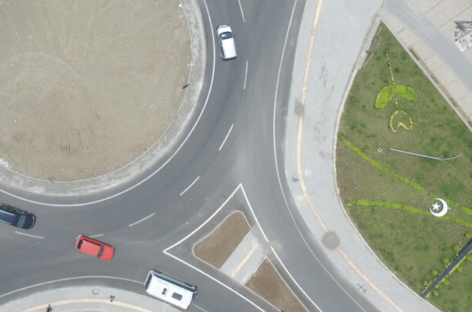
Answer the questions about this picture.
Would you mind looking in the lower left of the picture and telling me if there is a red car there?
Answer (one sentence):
Yes, there is a red car in the lower left of the picture.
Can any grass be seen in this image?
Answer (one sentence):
Yes, there is grass in the image.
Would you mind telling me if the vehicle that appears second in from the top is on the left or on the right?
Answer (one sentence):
The vehicle that appears second in from the top is on the left side of the image.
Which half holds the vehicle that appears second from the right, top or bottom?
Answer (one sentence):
The vehicle that appears second from the right sits in the bottom half of the picture.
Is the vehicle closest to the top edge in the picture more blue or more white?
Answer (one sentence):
The vehicle closest to the top edge looks white in the image.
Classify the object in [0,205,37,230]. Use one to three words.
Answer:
vehicle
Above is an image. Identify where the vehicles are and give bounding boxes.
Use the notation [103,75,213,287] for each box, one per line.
[73,234,116,261]
[145,270,197,310]
[0,205,37,230]
[216,24,237,61]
